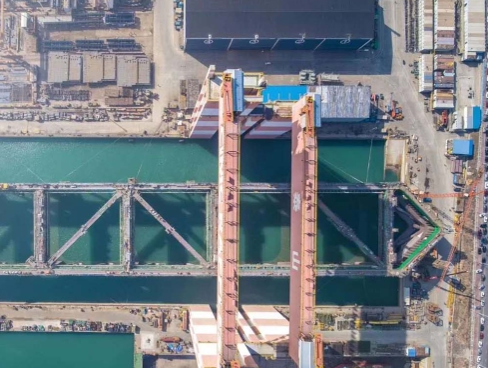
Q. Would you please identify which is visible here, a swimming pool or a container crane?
container crane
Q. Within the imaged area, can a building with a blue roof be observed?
Yes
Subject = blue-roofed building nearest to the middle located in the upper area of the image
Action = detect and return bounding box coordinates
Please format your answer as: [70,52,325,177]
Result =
[259,85,310,100]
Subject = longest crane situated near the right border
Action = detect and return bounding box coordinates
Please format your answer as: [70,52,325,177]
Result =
[416,167,486,281]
